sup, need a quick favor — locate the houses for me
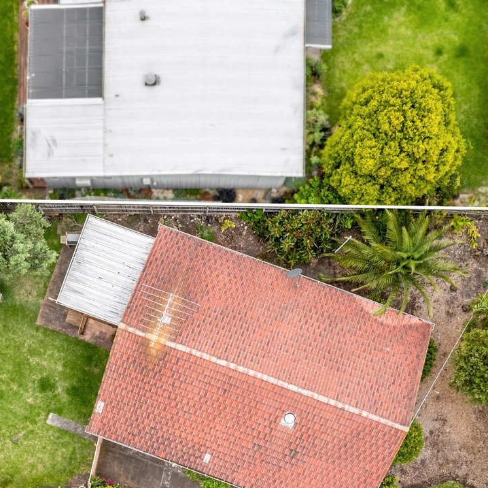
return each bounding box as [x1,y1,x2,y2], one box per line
[85,222,435,488]
[21,0,308,192]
